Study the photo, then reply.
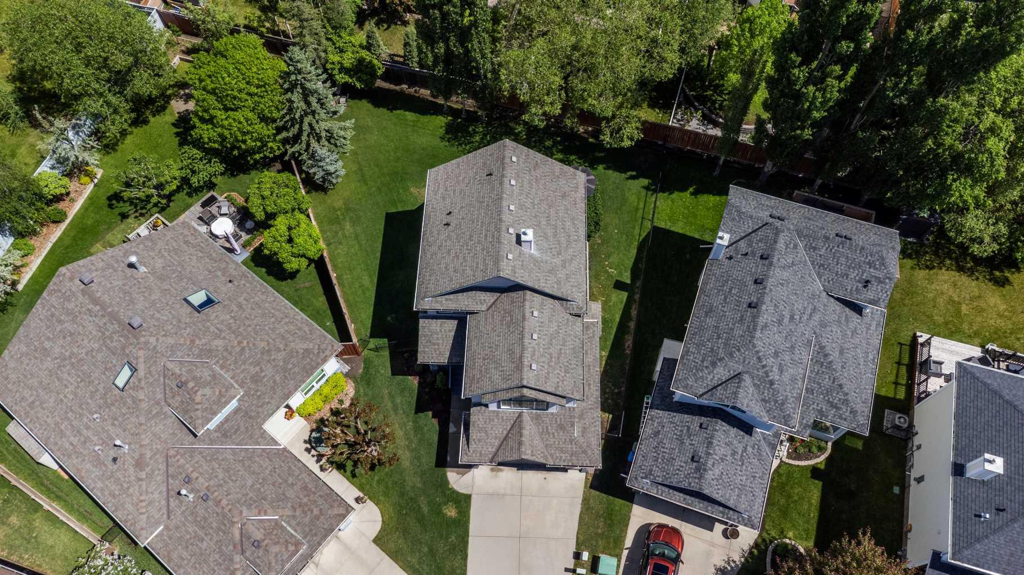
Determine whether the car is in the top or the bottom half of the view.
bottom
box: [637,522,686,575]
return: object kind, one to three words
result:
car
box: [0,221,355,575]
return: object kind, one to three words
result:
house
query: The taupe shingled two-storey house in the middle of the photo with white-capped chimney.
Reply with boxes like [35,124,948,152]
[412,140,603,471]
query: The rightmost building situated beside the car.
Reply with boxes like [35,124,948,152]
[625,182,904,535]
